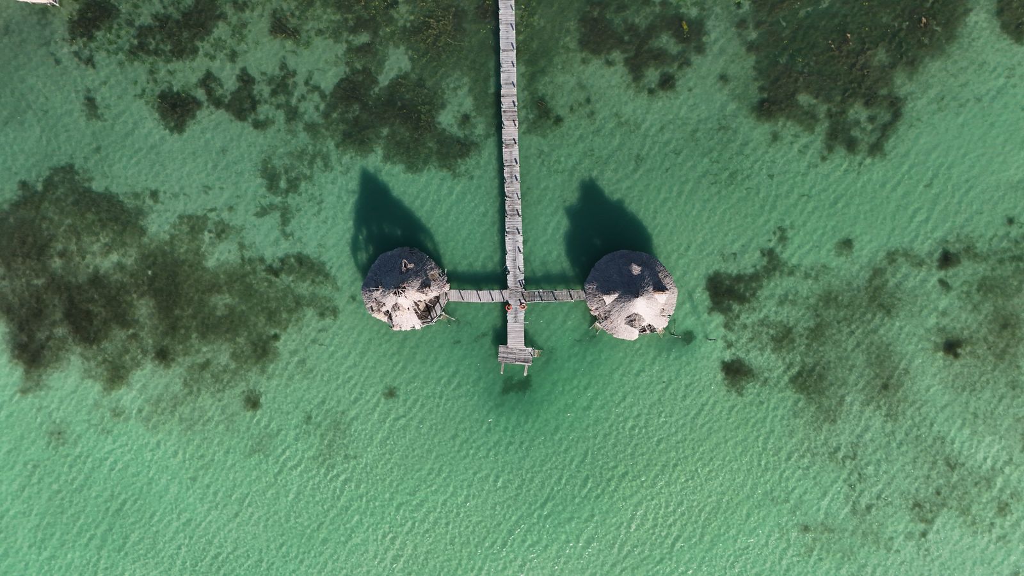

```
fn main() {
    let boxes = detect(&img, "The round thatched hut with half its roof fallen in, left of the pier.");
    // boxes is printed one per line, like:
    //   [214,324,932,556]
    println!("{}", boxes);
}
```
[361,246,451,333]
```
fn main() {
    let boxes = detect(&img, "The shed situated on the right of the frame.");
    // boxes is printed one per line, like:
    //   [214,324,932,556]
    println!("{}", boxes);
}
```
[583,249,678,341]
